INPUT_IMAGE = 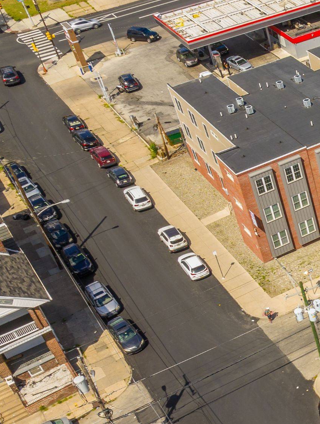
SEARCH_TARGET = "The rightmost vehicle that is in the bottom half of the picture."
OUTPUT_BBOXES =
[178,254,212,285]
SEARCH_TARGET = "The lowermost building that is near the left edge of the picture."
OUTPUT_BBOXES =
[0,250,73,424]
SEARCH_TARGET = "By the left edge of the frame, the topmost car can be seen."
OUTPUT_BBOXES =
[0,67,22,88]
